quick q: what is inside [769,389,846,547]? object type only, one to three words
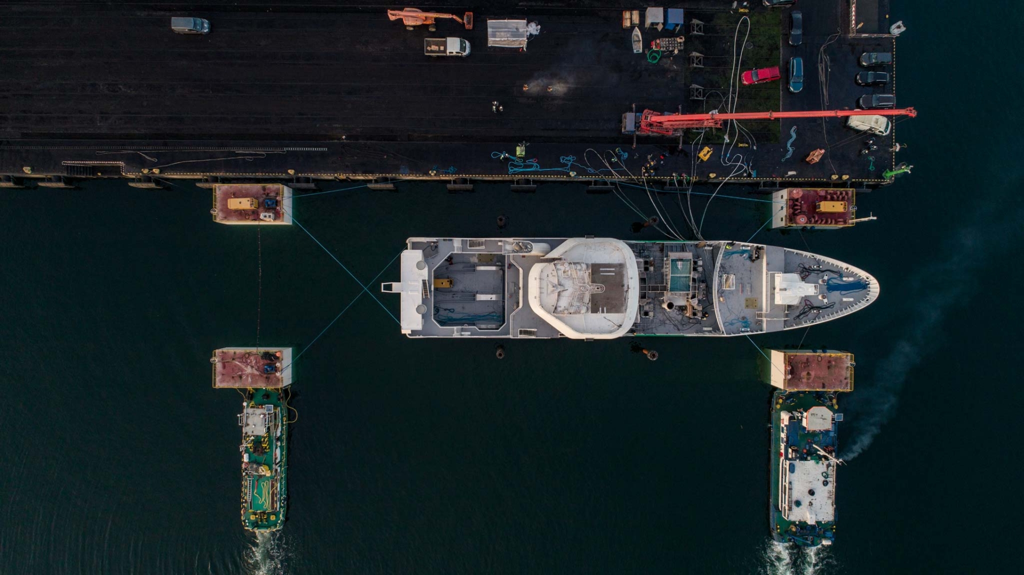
boat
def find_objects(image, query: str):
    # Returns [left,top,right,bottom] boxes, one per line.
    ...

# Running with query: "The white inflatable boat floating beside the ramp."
[891,18,909,34]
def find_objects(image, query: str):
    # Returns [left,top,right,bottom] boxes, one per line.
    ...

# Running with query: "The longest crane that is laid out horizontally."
[622,103,919,153]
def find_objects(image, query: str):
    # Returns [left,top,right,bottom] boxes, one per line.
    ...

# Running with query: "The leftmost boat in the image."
[236,388,290,532]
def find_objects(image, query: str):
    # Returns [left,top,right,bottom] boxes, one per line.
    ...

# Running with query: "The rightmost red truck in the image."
[741,64,785,85]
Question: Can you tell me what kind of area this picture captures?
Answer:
port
